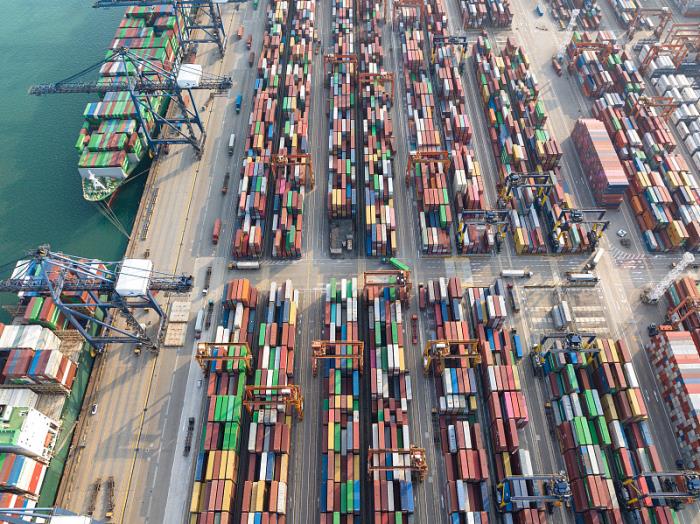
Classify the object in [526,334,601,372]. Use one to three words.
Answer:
container crane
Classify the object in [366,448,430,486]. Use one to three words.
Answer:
container crane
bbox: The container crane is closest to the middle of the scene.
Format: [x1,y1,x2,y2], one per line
[362,268,413,308]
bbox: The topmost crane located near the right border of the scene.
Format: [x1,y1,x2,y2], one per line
[626,5,674,40]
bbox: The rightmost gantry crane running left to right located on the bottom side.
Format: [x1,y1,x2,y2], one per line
[612,471,700,510]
